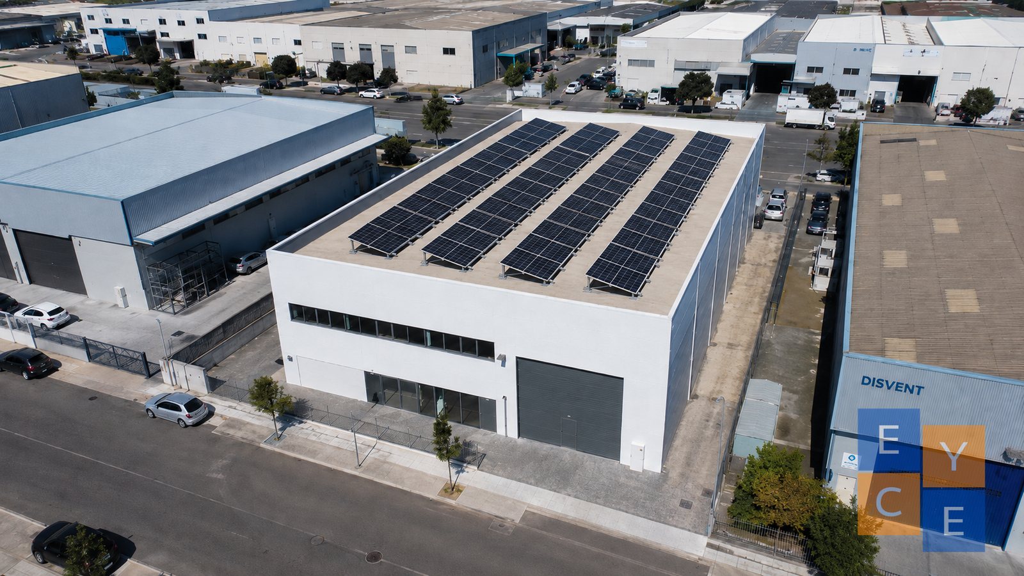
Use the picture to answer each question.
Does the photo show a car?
Yes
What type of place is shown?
industrial area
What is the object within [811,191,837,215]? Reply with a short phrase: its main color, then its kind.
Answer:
black car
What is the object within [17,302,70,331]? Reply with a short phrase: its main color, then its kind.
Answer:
white car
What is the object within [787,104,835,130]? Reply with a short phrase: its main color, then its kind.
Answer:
white truck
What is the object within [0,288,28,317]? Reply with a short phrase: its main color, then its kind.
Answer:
black car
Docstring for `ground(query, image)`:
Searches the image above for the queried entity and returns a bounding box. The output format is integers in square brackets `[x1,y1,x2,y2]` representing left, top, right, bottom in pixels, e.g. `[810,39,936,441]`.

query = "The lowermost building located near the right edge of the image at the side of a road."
[826,120,1024,544]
